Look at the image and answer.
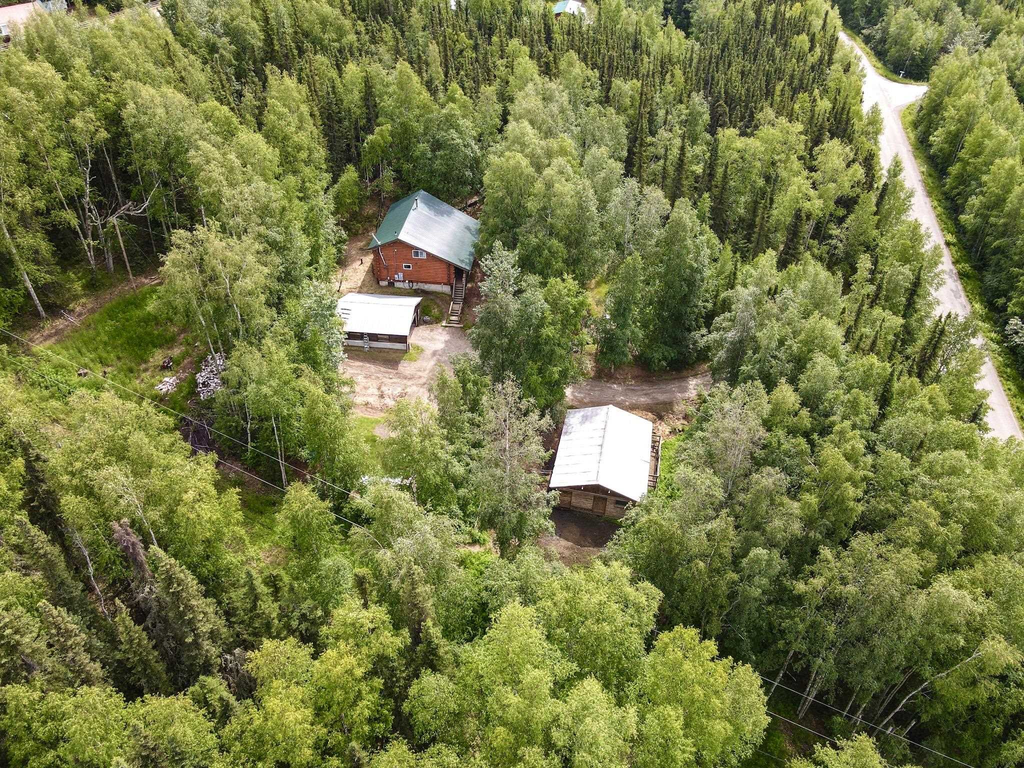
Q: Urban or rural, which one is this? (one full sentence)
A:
The area shown here is rural.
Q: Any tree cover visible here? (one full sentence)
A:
Yes, there is tree cover in the image.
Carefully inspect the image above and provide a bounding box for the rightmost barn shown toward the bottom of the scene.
[549,404,651,518]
